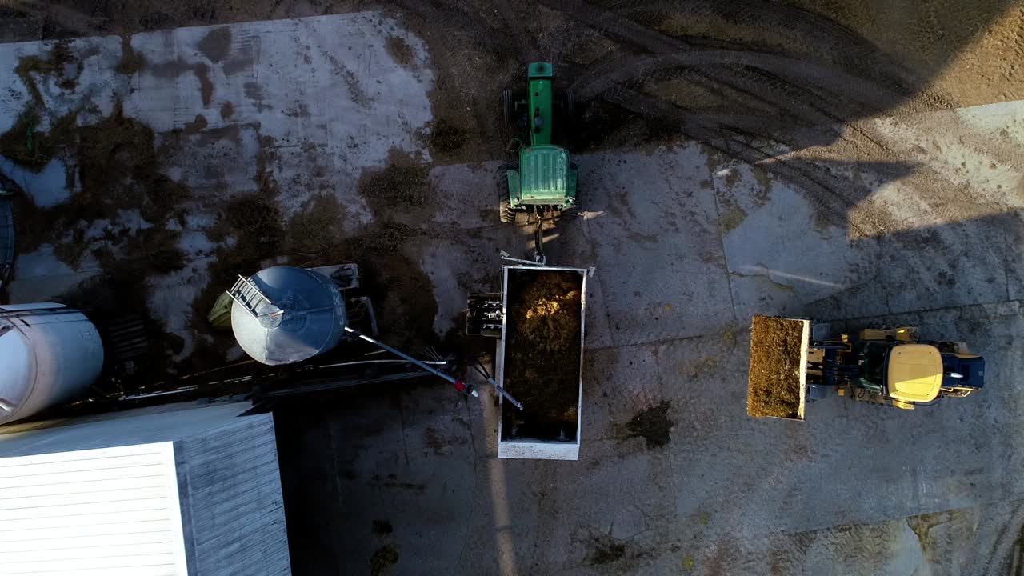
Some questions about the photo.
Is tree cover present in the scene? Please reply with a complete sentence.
No, there's no tree cover in this view.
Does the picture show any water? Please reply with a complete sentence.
No, the picture contains no water.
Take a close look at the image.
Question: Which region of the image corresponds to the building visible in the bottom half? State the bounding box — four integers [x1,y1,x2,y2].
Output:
[0,402,291,576]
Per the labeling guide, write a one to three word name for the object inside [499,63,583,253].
work vehicle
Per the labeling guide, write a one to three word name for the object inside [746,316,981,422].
work vehicle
